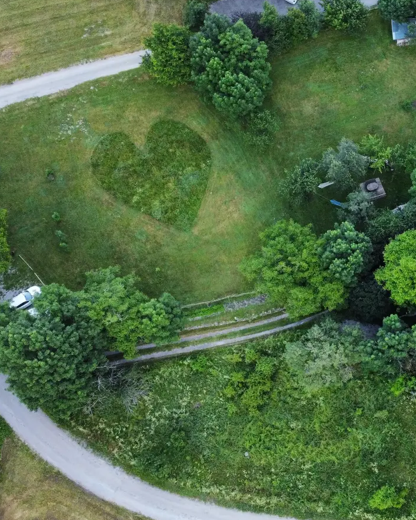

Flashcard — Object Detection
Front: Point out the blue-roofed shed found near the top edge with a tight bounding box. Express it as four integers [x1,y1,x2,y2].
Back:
[392,20,416,49]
